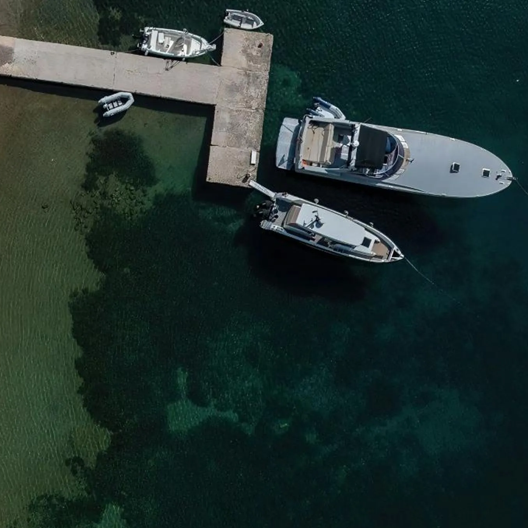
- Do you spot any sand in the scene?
Yes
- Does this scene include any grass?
No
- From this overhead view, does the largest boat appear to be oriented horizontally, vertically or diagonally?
horizontally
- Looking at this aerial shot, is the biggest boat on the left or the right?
right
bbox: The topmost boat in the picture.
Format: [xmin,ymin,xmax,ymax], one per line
[221,8,263,29]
